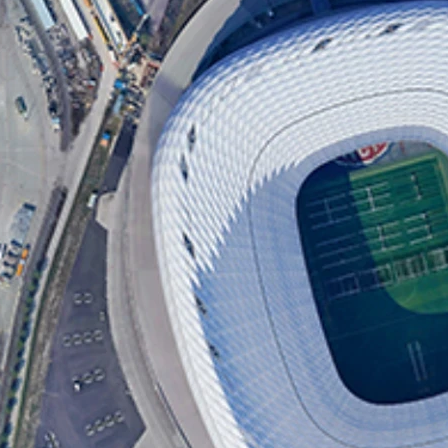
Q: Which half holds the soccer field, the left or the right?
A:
right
